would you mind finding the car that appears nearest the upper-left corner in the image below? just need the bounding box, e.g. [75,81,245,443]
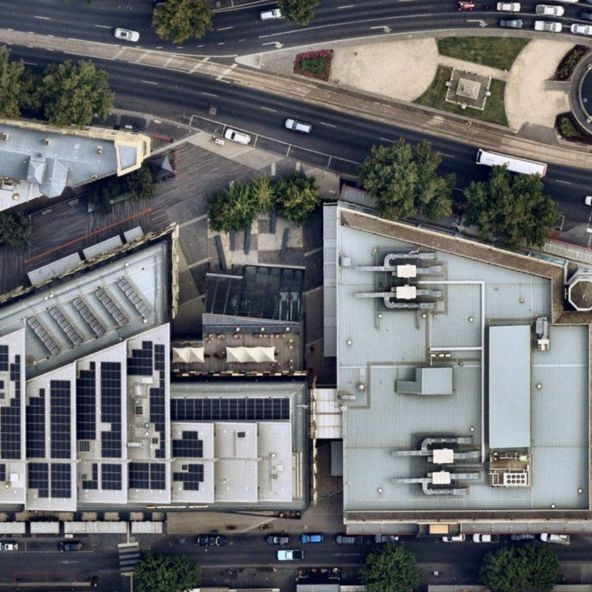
[115,28,140,41]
